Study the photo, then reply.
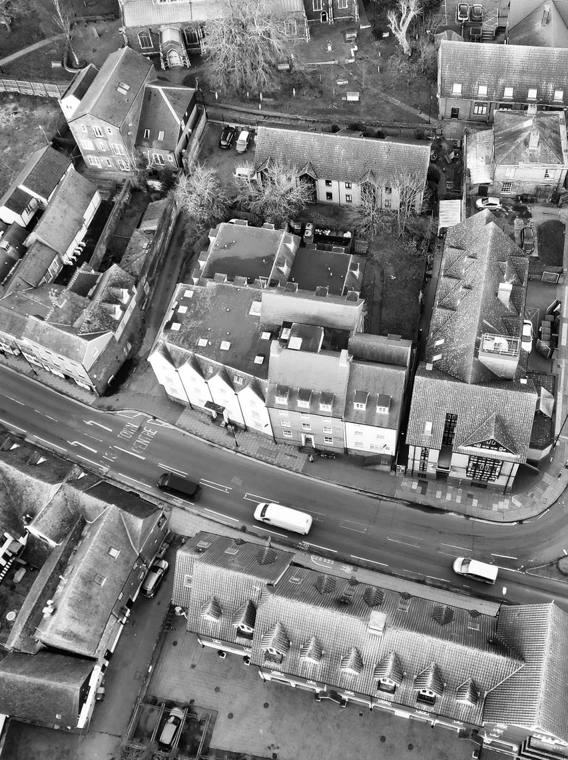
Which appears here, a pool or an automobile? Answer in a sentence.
There is an automobile in the scene.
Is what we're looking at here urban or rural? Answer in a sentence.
The area is urban.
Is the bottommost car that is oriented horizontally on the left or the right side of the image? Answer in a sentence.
The bottommost car that is oriented horizontally appears in the right half of the scene.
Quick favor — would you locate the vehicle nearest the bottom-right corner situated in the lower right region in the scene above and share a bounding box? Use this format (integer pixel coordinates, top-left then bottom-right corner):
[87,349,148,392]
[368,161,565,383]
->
[451,555,502,584]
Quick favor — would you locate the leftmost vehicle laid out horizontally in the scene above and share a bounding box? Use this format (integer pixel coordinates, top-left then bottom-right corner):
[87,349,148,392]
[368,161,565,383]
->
[156,475,203,503]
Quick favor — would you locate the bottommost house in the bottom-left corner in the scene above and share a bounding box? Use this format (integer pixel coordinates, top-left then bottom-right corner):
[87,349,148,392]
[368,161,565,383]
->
[0,640,113,734]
